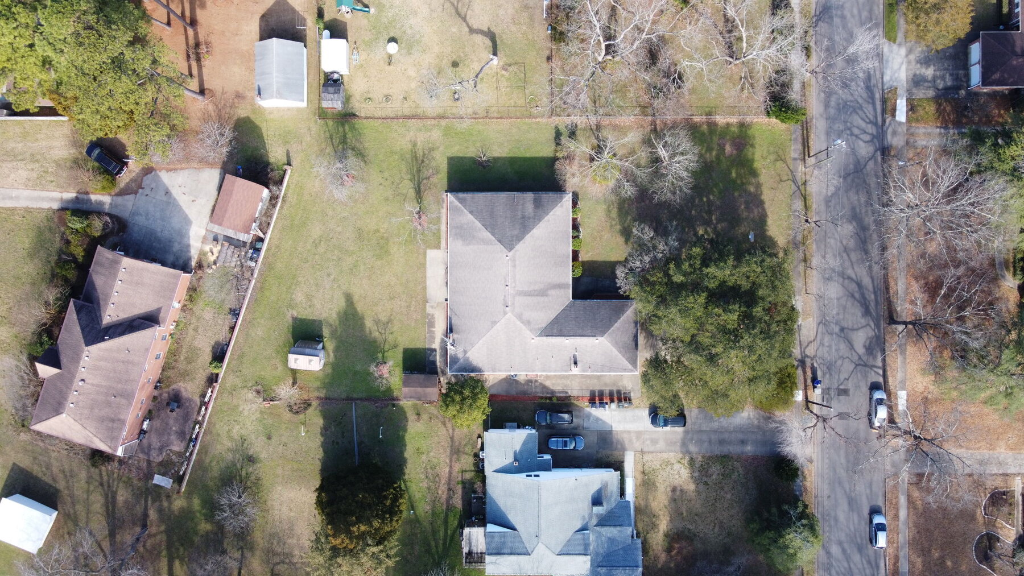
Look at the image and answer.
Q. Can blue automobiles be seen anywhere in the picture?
Yes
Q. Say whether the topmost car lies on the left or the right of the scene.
left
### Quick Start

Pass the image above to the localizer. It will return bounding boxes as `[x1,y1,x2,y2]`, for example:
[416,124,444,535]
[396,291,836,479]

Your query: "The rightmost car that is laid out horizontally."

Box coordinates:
[651,413,688,430]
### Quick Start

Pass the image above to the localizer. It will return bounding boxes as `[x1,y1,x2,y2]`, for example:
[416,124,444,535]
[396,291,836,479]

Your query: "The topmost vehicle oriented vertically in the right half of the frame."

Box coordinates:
[872,390,890,427]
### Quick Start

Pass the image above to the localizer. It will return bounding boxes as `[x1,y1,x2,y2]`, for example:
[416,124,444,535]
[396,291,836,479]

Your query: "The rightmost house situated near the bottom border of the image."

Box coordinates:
[464,422,643,576]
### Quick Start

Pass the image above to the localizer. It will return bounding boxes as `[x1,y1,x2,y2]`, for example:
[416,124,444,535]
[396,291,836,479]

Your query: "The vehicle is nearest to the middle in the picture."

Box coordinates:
[536,411,573,428]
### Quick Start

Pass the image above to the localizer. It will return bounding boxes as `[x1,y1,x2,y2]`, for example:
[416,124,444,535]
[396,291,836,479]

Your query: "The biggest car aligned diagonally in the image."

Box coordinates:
[81,143,127,179]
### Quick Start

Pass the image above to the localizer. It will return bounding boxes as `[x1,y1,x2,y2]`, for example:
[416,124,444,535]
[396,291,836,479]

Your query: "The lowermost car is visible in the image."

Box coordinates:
[871,514,890,550]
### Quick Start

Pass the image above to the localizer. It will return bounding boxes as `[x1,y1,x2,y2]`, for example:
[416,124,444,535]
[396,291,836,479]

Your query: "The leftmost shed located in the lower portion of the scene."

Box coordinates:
[0,491,65,554]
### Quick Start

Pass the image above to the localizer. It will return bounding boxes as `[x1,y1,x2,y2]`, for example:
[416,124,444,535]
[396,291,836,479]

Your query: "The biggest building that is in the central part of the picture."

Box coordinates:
[437,191,639,379]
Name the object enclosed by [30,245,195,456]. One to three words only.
house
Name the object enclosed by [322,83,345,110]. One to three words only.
shed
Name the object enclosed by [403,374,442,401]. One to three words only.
shed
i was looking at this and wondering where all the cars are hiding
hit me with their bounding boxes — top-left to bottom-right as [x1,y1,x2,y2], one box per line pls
[872,390,890,427]
[871,514,890,550]
[651,413,688,430]
[548,436,584,453]
[536,411,573,428]
[81,143,127,179]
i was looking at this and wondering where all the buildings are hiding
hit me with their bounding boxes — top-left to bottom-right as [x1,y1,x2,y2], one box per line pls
[437,191,639,379]
[207,174,274,243]
[403,374,442,401]
[30,245,195,456]
[0,491,65,554]
[322,83,345,110]
[287,337,326,372]
[254,38,309,107]
[321,38,350,75]
[969,0,1024,90]
[464,422,643,576]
